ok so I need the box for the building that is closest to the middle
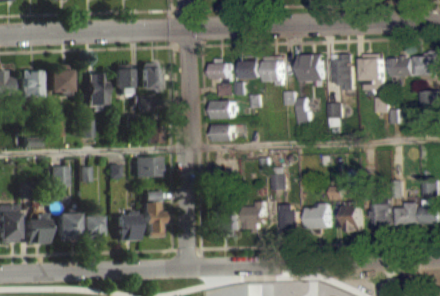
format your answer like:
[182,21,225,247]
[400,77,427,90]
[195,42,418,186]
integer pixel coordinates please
[205,124,234,142]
